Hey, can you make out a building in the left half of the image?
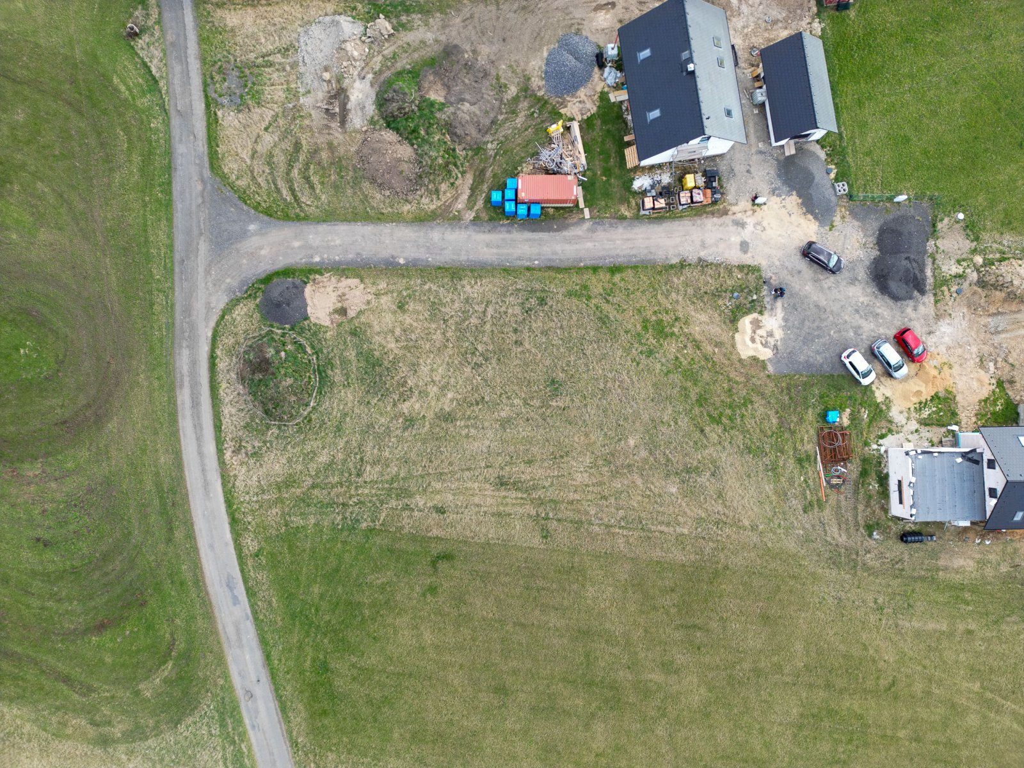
No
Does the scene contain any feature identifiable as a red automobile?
Yes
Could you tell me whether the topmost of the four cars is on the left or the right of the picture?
right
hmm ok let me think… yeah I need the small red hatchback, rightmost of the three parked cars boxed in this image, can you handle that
[894,326,927,363]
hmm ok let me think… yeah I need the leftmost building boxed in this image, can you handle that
[611,0,748,168]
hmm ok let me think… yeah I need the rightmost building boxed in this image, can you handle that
[955,425,1024,531]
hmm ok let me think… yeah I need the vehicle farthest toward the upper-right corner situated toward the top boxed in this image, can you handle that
[802,239,845,274]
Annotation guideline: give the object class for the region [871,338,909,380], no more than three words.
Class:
car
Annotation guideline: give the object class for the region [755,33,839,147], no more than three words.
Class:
building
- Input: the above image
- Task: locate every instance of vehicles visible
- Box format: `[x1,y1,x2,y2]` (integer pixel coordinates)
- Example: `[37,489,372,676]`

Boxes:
[894,326,927,363]
[871,338,909,380]
[802,239,845,274]
[841,347,876,386]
